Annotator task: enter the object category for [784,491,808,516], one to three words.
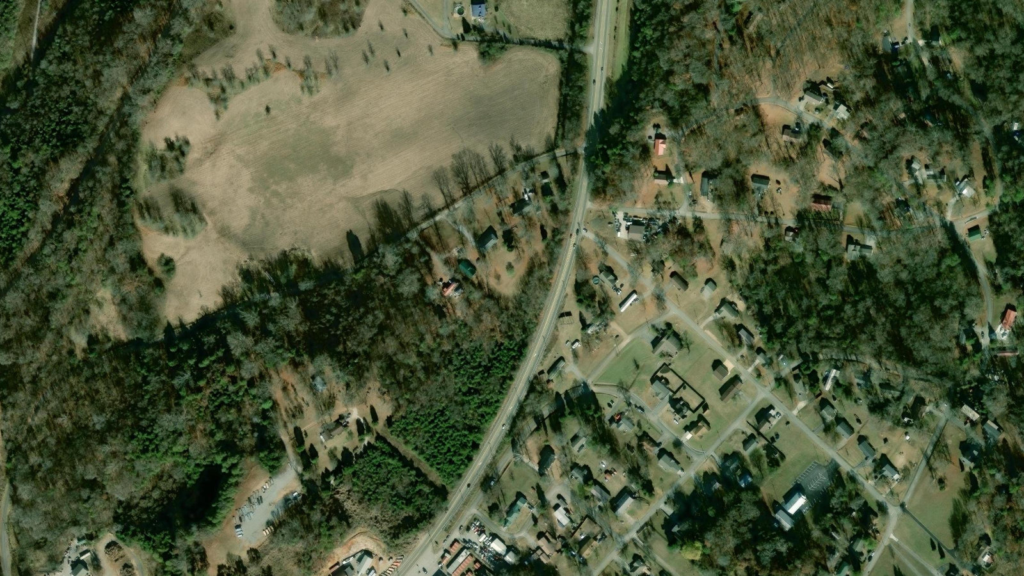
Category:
building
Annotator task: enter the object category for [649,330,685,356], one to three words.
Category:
house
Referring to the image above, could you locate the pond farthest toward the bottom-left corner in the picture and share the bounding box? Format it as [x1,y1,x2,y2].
[154,462,223,530]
